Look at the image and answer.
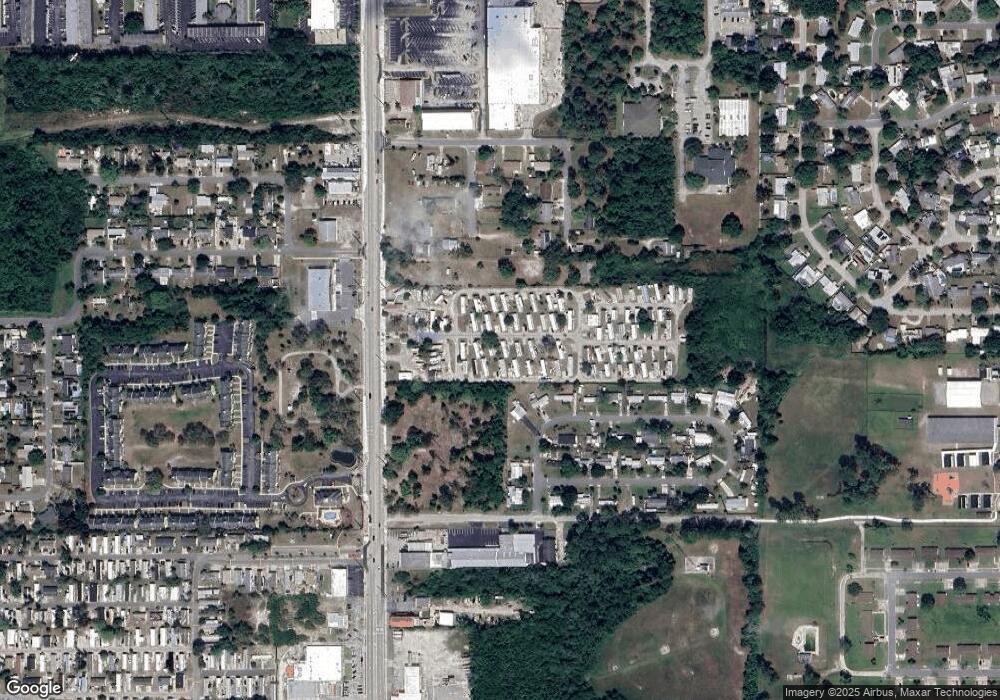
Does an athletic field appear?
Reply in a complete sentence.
Yes, the frame does contain an athletic field.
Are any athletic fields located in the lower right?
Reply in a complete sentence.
Yes, you'll find an athletic field in the lower right.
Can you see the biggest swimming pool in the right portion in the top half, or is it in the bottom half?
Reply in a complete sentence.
The bottom half of the photo is where the biggest swimming pool in the right portion is.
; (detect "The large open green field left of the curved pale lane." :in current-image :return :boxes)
[766,525,839,622]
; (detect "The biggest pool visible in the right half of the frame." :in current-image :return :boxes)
[792,625,818,655]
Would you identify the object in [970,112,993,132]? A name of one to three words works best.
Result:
house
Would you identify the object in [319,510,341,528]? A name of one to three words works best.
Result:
swimming pool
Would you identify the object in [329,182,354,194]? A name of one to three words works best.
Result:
building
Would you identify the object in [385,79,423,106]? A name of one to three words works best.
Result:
building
